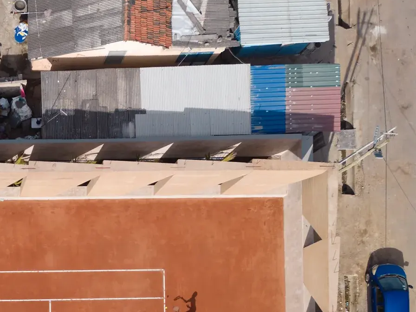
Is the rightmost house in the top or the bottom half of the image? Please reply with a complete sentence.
The top half of the photo is where the rightmost house is.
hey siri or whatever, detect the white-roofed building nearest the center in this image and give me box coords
[141,67,252,137]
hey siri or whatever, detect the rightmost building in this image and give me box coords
[279,65,341,145]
